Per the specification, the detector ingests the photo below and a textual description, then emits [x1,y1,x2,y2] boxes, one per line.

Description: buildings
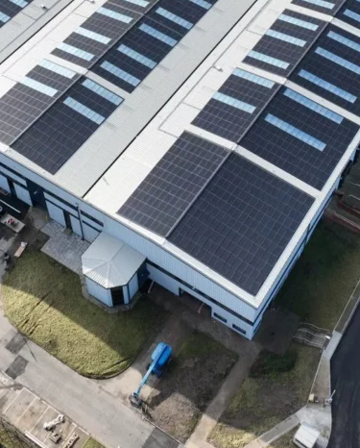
[0,0,360,341]
[289,409,325,448]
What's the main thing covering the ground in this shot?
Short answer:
buildings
